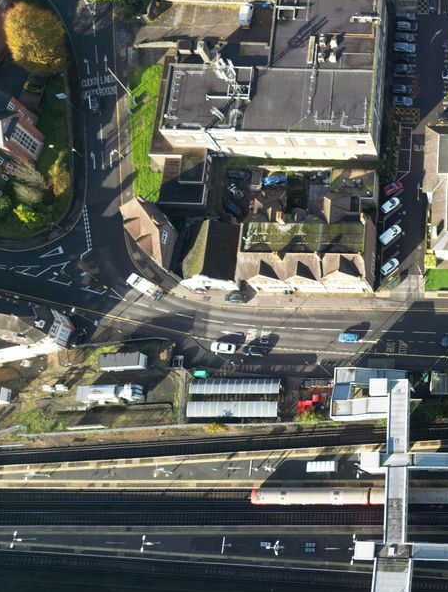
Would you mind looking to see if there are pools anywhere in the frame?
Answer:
No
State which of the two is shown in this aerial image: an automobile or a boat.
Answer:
automobile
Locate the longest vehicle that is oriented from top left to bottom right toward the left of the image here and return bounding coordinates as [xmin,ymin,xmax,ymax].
[125,271,166,301]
